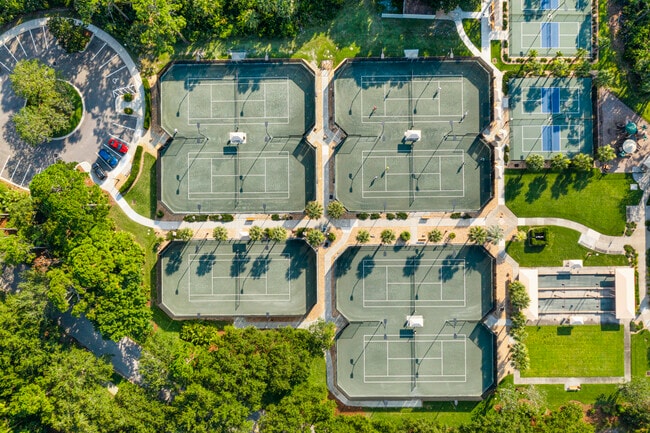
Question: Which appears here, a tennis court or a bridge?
tennis court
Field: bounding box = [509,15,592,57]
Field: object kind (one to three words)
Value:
sports court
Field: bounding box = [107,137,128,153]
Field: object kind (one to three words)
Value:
car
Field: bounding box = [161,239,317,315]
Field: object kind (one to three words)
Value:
tennis court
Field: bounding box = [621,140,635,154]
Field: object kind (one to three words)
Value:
umbrella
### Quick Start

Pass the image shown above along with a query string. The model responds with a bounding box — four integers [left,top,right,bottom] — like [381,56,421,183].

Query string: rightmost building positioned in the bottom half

[609,267,634,318]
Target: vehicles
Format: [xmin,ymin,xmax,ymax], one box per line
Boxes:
[96,147,117,166]
[89,161,107,180]
[107,137,128,153]
[321,224,328,234]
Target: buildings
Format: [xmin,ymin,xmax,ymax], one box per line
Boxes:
[515,268,537,319]
[609,267,634,318]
